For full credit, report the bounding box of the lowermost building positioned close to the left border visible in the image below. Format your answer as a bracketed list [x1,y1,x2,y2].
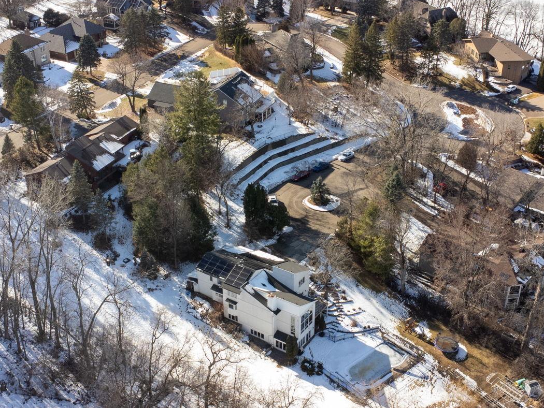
[23,115,148,195]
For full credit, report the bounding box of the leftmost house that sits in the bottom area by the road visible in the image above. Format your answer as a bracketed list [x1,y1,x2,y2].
[189,242,336,350]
